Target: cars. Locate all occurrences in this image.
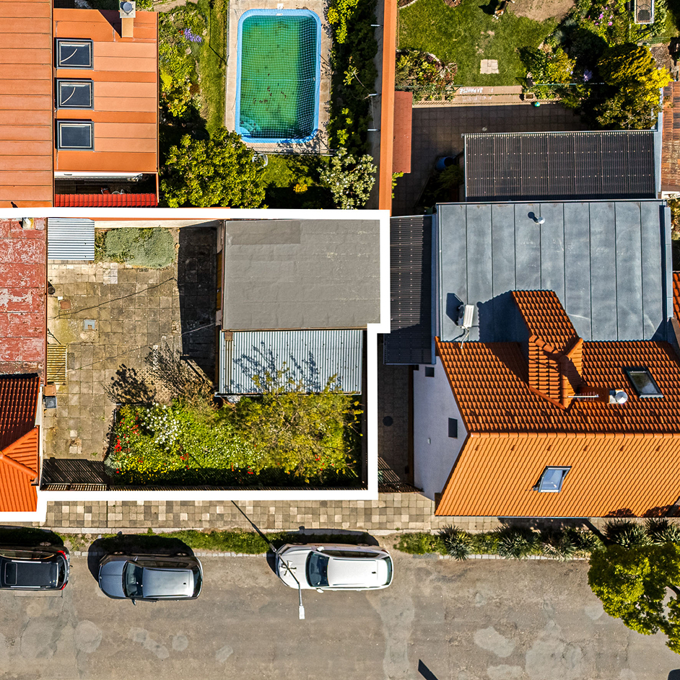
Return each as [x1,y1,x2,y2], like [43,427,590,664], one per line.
[101,550,203,606]
[279,541,391,597]
[0,542,69,591]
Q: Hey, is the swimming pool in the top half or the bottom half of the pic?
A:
top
